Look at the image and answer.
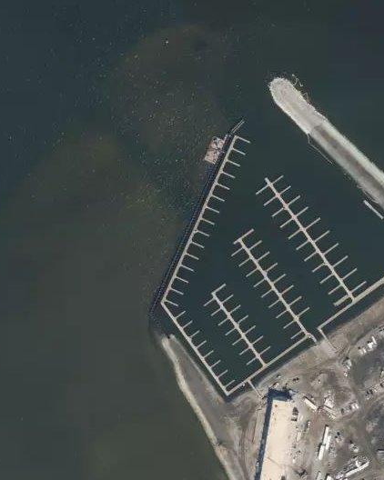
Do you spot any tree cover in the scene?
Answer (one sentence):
No, there is no tree cover in the image.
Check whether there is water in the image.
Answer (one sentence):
Yes, the picture does contain water.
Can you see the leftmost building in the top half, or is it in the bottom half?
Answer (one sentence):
The leftmost building sits in the bottom half of the picture.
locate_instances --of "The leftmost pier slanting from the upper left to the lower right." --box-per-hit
[161,303,235,396]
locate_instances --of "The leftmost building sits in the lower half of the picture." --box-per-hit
[260,400,291,480]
